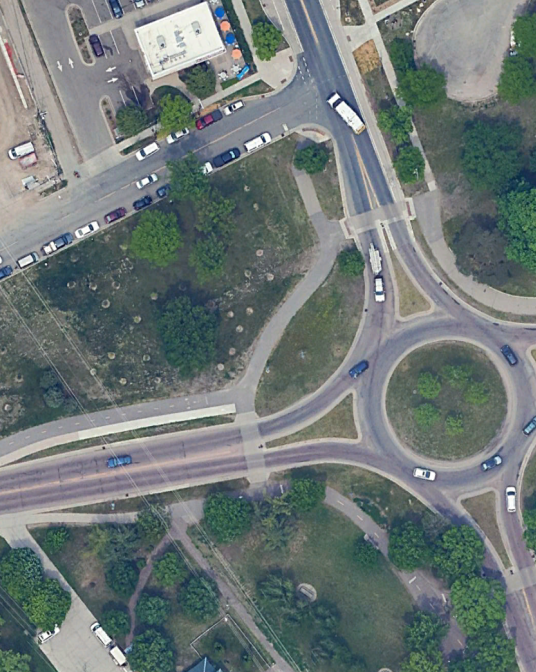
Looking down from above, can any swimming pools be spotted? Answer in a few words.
No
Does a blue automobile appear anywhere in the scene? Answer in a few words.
Yes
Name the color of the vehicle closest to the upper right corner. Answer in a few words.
white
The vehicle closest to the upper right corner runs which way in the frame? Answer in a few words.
at an angle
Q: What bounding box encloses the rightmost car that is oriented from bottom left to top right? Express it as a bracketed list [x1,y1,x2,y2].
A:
[522,415,536,436]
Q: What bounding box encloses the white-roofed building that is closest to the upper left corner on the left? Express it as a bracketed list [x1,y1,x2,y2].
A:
[136,0,226,81]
